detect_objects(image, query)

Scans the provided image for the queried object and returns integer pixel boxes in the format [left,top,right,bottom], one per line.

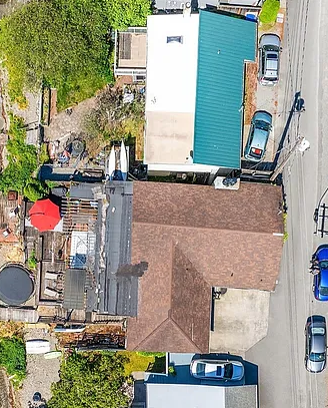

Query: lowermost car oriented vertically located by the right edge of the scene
[302,316,328,372]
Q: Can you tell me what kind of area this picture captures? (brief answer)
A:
residential area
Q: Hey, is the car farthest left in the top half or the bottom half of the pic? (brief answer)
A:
bottom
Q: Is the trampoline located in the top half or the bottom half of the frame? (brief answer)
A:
bottom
